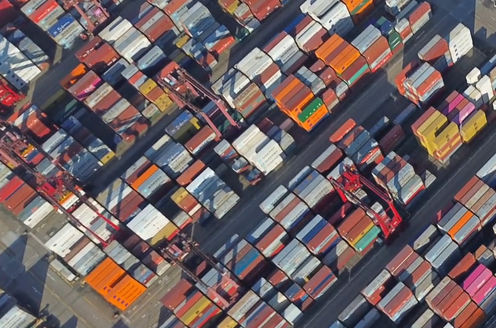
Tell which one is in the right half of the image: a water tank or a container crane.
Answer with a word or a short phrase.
container crane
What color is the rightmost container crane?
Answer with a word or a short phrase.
red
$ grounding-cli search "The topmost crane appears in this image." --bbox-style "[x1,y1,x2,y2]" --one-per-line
[67,0,142,70]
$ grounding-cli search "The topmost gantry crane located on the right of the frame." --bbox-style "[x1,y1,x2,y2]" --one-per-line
[332,160,412,247]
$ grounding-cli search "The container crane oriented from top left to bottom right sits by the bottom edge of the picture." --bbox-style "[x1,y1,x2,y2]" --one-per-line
[157,229,252,314]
